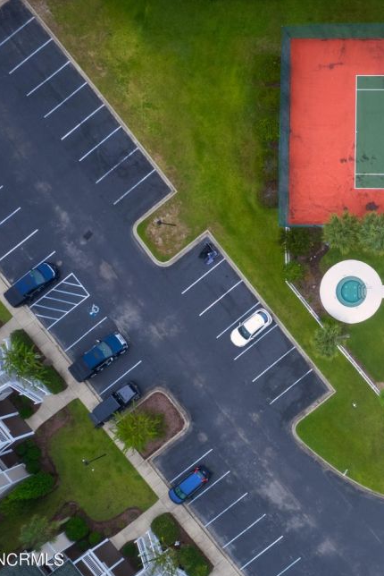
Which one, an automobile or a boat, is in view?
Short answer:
automobile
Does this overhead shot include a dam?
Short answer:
No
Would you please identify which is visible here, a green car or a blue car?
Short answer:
blue car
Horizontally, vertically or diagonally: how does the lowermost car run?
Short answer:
diagonally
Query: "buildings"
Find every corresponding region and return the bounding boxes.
[1,529,183,576]
[0,340,51,495]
